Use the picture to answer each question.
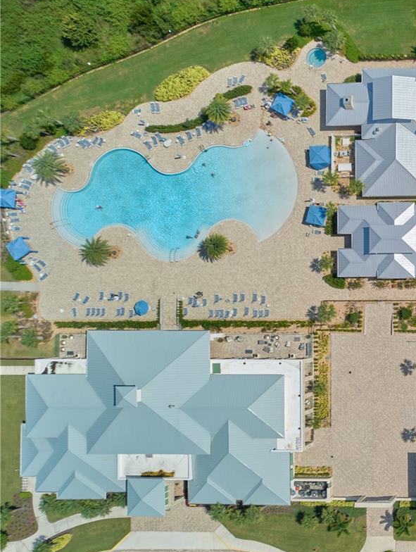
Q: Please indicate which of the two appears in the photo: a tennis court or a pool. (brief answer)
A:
pool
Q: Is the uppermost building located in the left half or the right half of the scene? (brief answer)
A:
right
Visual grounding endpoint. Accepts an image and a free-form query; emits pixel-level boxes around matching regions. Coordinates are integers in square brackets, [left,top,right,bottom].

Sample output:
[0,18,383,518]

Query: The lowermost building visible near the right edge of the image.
[338,202,416,279]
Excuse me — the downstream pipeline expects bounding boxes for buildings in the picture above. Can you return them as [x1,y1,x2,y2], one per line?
[338,202,416,279]
[327,68,416,196]
[20,331,311,508]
